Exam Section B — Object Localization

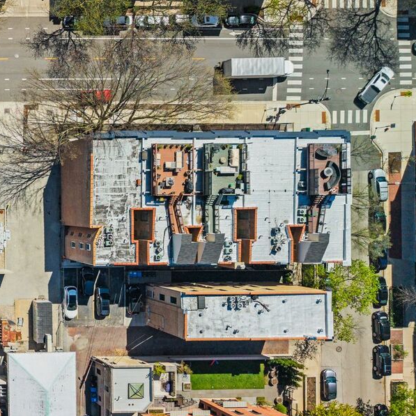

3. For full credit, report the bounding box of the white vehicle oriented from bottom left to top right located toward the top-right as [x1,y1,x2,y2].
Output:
[360,67,396,104]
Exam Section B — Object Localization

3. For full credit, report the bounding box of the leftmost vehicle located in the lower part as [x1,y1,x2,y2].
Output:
[64,287,79,320]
